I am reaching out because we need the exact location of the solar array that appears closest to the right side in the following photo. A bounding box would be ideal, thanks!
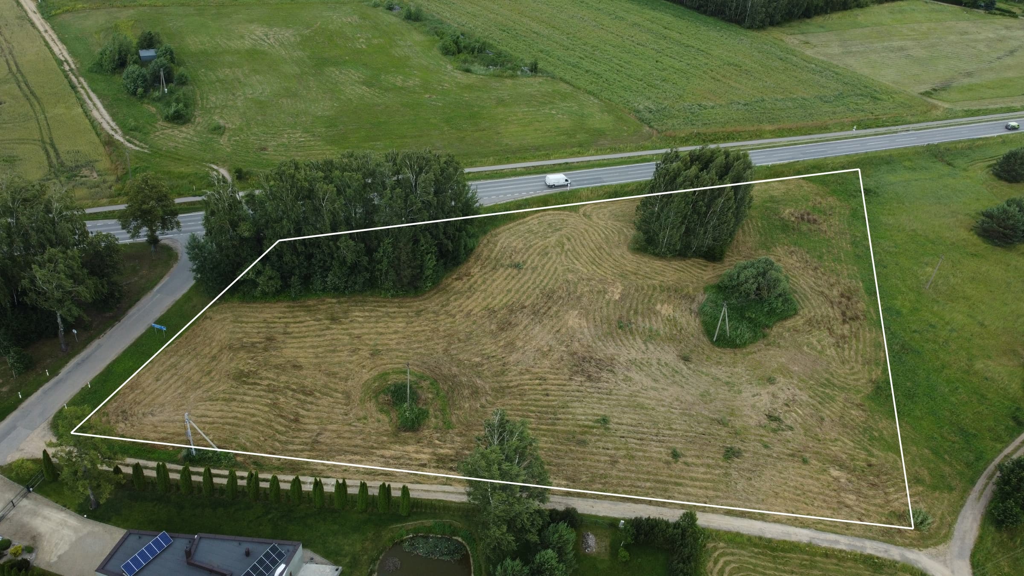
[239,541,289,576]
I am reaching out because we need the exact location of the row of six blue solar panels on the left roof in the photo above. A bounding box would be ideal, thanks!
[121,529,175,573]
